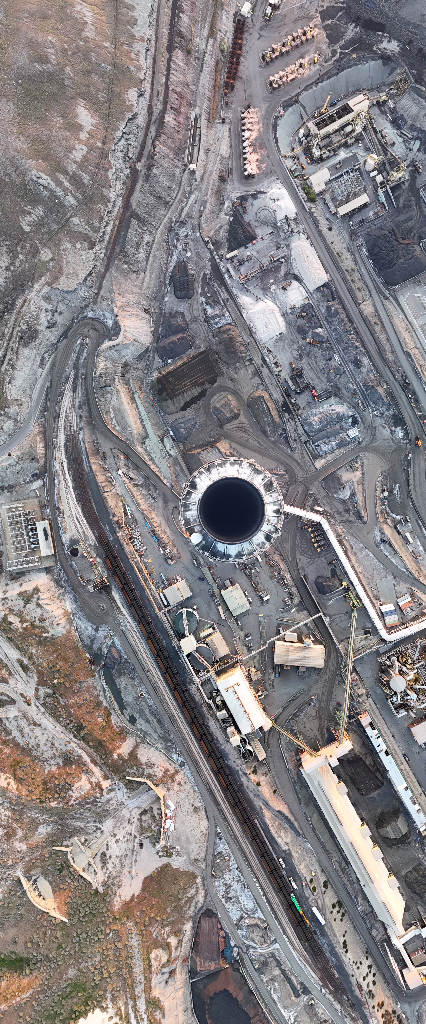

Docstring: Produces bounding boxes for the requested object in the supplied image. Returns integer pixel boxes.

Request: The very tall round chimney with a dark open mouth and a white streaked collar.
[179,457,285,563]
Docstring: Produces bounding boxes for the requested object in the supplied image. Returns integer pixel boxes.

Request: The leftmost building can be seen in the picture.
[36,520,56,556]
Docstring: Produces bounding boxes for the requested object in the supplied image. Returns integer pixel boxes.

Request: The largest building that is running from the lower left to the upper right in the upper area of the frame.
[305,94,370,144]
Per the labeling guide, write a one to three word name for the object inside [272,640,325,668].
building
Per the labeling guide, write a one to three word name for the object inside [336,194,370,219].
shed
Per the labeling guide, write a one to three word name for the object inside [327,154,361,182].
building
